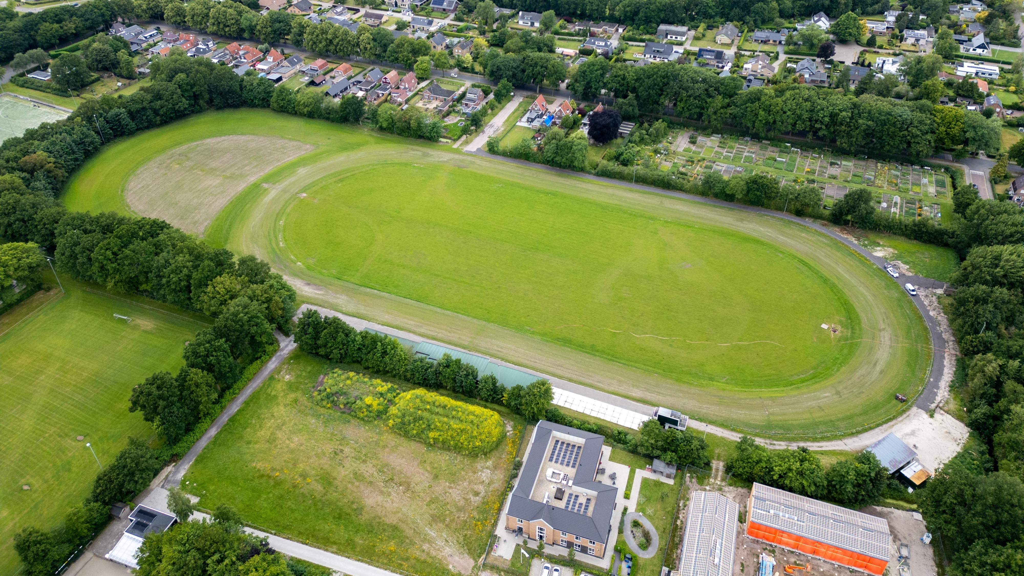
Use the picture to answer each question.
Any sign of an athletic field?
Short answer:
Yes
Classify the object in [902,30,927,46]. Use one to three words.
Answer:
house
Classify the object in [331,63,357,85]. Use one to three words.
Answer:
house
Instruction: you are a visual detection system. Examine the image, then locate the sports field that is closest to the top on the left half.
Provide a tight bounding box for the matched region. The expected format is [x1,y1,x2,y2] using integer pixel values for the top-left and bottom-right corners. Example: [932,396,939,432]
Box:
[0,97,68,140]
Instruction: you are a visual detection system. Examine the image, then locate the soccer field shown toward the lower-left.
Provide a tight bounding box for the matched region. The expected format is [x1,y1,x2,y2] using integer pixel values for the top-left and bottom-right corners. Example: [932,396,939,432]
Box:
[0,285,238,576]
